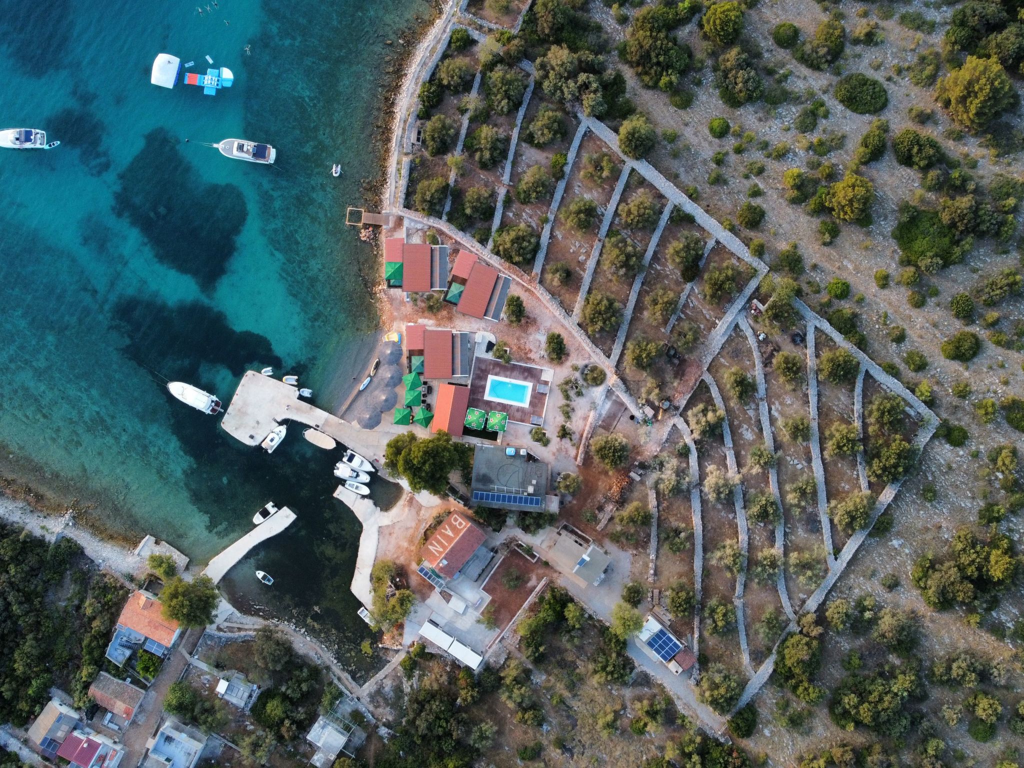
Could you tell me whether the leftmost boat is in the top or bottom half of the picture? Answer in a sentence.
The top half of the photo is where the leftmost boat is.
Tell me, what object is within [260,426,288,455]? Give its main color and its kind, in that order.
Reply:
white boat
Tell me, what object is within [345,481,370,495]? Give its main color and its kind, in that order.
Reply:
white boat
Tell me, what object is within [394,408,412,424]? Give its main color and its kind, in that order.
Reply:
green umbrella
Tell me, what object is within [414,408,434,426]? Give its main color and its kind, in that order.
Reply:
green umbrella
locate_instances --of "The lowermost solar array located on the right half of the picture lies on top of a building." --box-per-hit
[647,629,682,663]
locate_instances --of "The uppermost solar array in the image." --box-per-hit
[473,491,540,507]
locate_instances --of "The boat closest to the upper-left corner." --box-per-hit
[0,126,49,148]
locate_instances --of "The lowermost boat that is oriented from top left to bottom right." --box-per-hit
[357,606,373,625]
